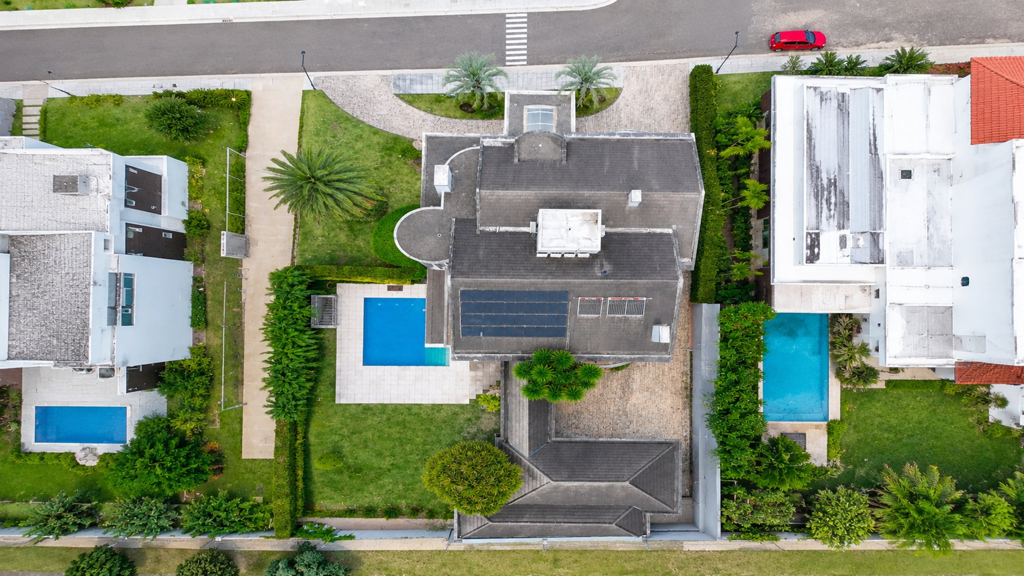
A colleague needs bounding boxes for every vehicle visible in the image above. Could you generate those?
[772,25,830,54]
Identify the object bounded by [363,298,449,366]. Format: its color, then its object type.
blue swimming pool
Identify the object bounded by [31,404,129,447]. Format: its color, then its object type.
blue swimming pool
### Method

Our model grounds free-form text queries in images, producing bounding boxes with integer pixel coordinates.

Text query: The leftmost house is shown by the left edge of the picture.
[0,136,193,394]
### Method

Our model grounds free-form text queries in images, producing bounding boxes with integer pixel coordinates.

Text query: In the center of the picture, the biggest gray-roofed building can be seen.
[394,91,707,368]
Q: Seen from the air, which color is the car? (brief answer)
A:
red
